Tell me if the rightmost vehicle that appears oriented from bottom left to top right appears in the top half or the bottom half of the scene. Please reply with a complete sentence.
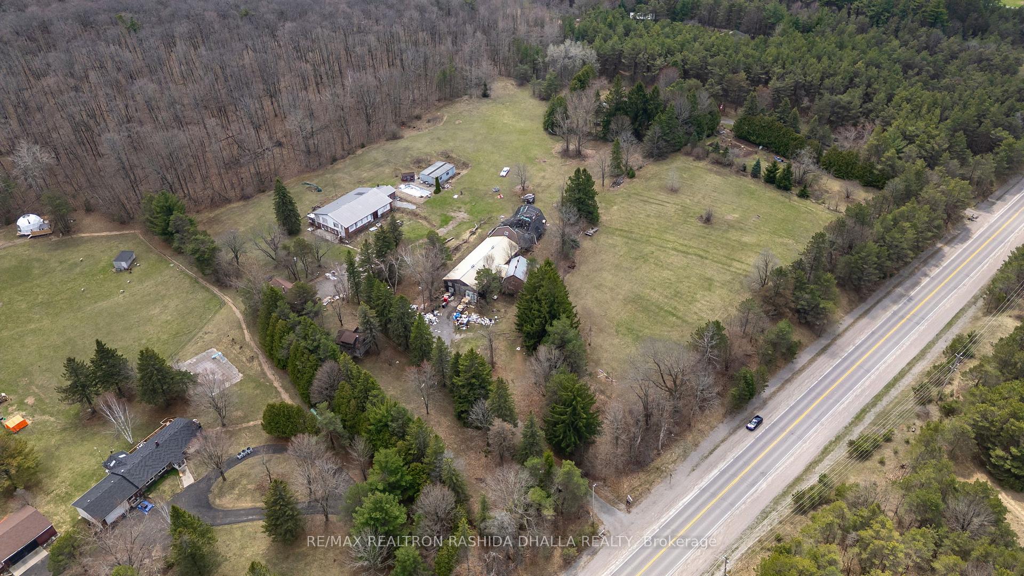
It is in the bottom half that the rightmost vehicle that appears oriented from bottom left to top right appears.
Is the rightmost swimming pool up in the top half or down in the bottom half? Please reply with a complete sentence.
Seen from above, the rightmost swimming pool lies in the top half of the view.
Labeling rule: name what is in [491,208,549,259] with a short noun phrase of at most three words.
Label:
barn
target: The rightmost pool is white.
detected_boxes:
[395,179,441,204]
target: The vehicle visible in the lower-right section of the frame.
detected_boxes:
[744,413,766,433]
